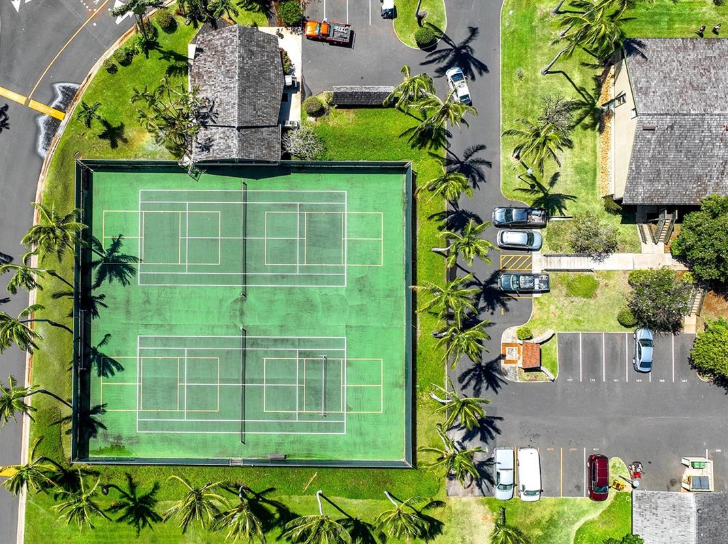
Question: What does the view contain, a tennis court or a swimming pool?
tennis court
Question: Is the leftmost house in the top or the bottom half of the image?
top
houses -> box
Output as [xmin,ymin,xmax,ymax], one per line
[191,24,285,161]
[599,38,728,245]
[632,492,728,544]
